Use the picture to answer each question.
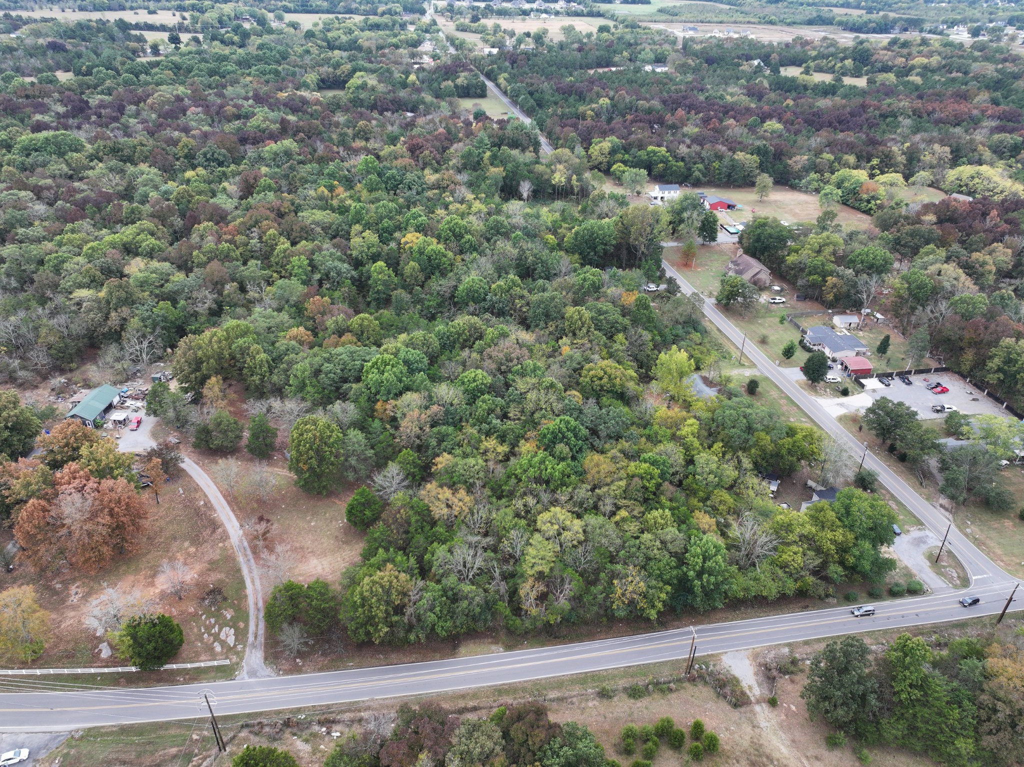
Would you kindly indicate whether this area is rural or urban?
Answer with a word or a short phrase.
rural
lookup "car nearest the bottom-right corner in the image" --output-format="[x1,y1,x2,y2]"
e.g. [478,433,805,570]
[957,594,982,608]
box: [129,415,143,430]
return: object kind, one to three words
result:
vehicle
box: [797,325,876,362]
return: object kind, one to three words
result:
house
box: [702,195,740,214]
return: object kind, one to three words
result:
barn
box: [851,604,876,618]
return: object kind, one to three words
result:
car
